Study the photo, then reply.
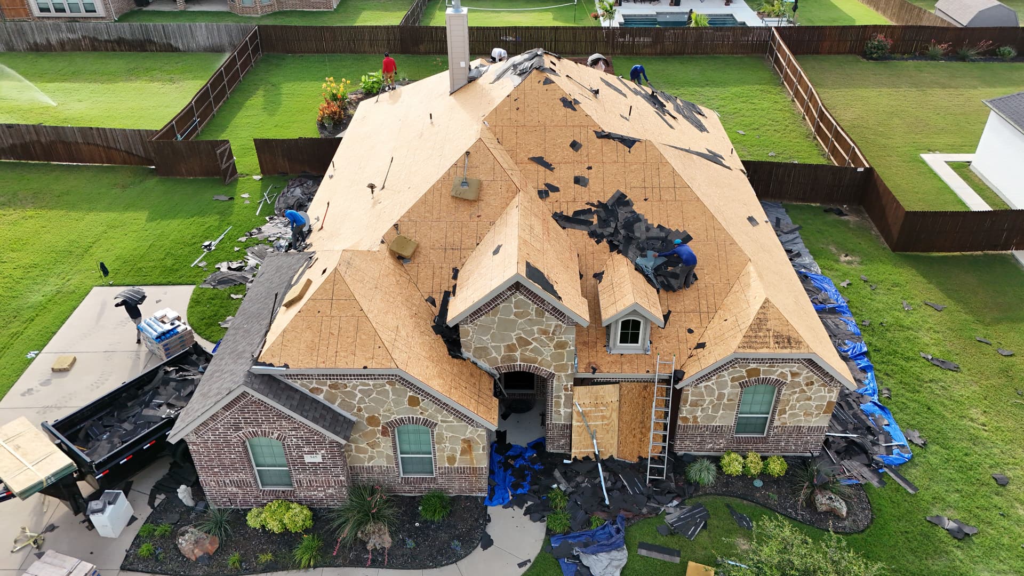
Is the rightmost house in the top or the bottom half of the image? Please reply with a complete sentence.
The rightmost house sits in the top half of the picture.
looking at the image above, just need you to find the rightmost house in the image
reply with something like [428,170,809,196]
[970,97,1024,204]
